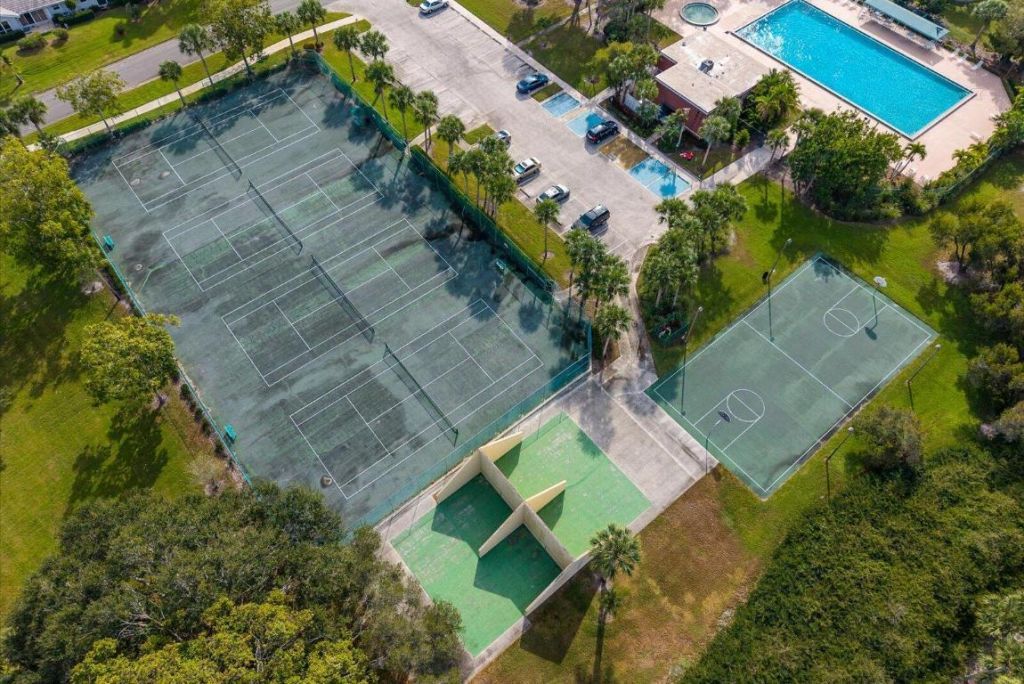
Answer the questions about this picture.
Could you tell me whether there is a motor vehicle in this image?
Yes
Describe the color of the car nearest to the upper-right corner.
black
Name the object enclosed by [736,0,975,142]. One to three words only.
swimming pool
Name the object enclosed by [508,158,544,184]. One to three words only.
car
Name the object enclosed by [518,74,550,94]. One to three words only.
car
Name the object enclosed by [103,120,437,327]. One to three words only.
tennis court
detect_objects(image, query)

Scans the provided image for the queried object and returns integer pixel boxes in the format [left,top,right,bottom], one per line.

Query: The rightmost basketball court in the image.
[642,250,943,503]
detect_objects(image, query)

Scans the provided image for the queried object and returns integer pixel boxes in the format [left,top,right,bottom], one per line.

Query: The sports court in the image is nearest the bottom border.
[389,412,651,655]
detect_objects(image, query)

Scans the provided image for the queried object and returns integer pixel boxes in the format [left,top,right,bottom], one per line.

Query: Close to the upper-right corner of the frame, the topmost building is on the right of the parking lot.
[862,0,951,54]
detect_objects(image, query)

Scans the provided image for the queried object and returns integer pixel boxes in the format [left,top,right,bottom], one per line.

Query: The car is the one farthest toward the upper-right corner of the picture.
[586,122,621,146]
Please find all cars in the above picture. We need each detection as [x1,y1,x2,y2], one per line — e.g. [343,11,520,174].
[481,130,515,154]
[586,122,621,146]
[533,183,570,209]
[572,201,613,231]
[508,158,544,184]
[518,74,550,94]
[420,0,451,17]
